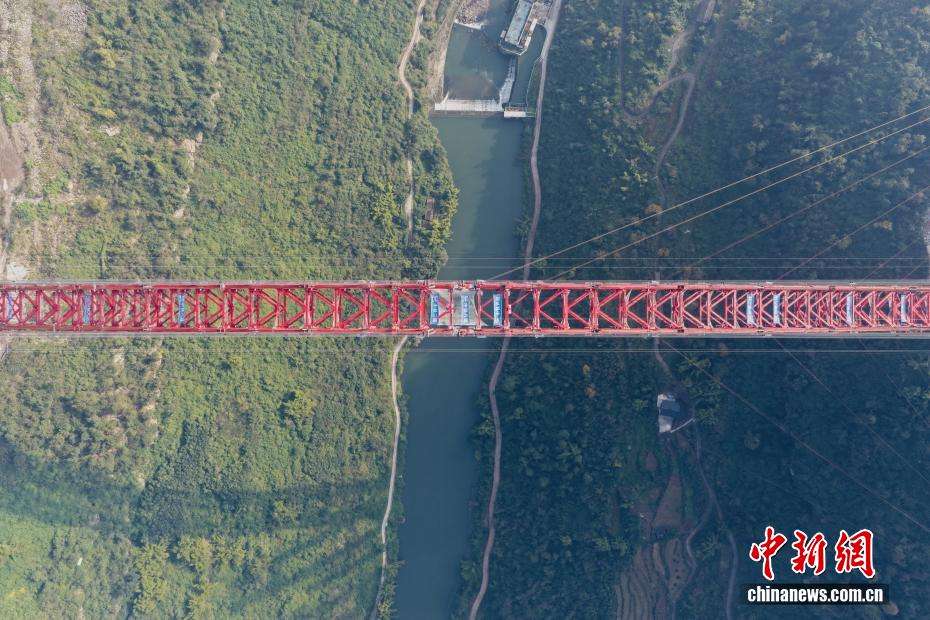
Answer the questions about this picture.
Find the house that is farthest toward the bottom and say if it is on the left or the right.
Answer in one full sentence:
You can find the house that is farthest toward the bottom on the right side of the picture.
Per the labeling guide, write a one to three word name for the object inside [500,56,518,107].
dam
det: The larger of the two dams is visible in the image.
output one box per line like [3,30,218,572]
[431,91,503,117]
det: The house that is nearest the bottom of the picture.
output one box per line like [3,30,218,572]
[658,394,680,432]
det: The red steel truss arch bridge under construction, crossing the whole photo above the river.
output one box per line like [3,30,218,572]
[0,281,930,339]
